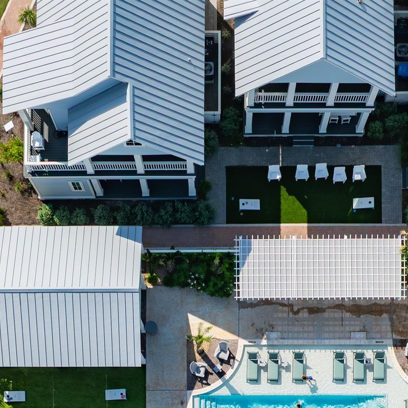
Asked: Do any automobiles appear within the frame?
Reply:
No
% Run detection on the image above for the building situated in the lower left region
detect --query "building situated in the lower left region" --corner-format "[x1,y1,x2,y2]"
[0,226,145,369]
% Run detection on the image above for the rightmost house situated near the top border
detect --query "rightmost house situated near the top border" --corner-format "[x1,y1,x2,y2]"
[223,0,396,146]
